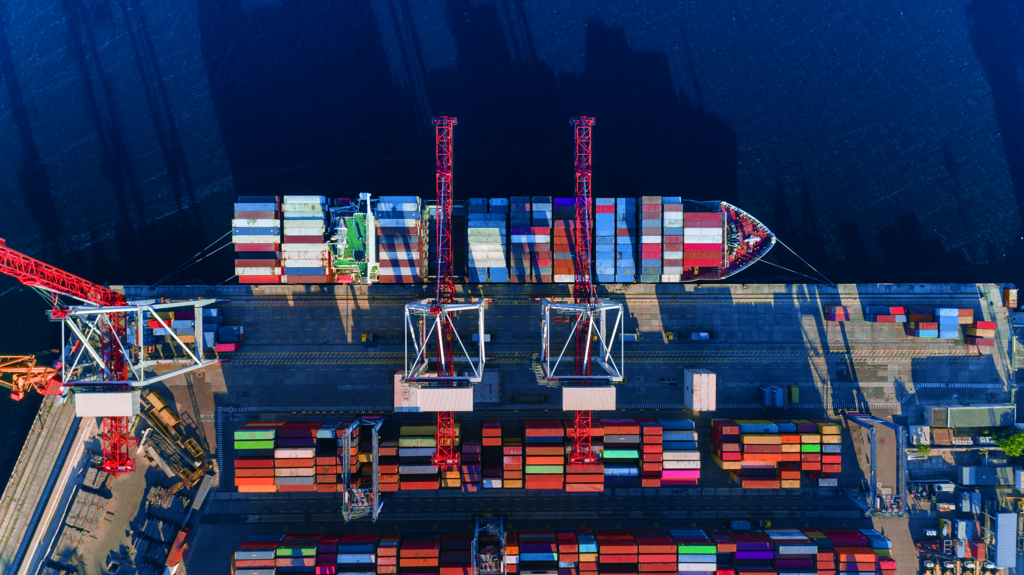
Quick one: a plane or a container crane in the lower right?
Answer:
container crane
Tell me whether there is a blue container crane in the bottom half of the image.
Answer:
Yes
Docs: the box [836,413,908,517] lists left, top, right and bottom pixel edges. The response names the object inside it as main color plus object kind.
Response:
blue container crane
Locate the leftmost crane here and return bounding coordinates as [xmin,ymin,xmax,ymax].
[0,348,102,403]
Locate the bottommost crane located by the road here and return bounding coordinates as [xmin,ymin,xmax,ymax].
[468,514,510,575]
